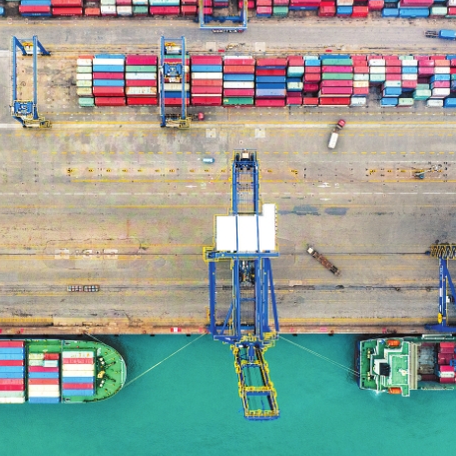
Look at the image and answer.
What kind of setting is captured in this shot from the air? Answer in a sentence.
What you see here is a port.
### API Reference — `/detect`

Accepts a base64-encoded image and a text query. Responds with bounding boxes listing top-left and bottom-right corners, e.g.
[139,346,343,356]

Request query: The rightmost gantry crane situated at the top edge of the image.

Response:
[196,0,248,30]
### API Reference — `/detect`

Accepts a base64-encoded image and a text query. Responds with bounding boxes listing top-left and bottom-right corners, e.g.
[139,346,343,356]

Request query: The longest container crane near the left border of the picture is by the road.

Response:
[9,36,55,127]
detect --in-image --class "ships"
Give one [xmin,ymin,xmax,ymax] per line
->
[358,335,456,396]
[0,337,125,403]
